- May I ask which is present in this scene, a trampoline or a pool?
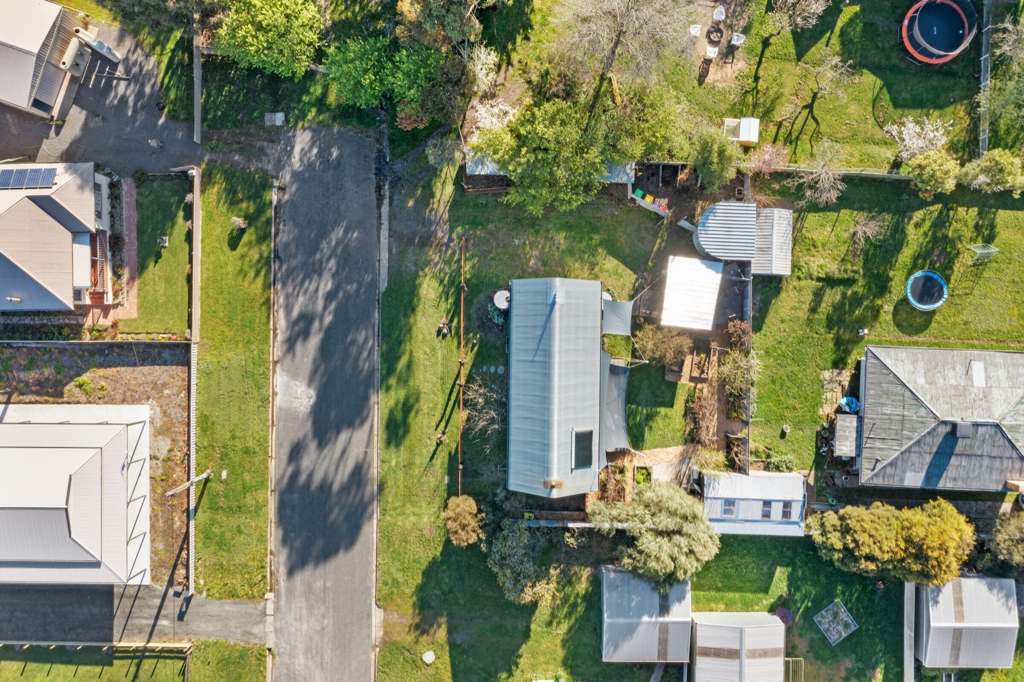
trampoline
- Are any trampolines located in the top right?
Yes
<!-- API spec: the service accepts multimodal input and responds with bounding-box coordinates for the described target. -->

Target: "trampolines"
[900,269,948,312]
[891,0,979,72]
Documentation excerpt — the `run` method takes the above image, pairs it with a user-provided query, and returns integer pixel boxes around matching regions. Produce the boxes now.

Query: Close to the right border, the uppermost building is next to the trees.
[833,345,1024,495]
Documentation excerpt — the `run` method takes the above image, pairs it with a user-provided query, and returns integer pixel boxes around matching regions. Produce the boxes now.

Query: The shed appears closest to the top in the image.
[0,0,82,115]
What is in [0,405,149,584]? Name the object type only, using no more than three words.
house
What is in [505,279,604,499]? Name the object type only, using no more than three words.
house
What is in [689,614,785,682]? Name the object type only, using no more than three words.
building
